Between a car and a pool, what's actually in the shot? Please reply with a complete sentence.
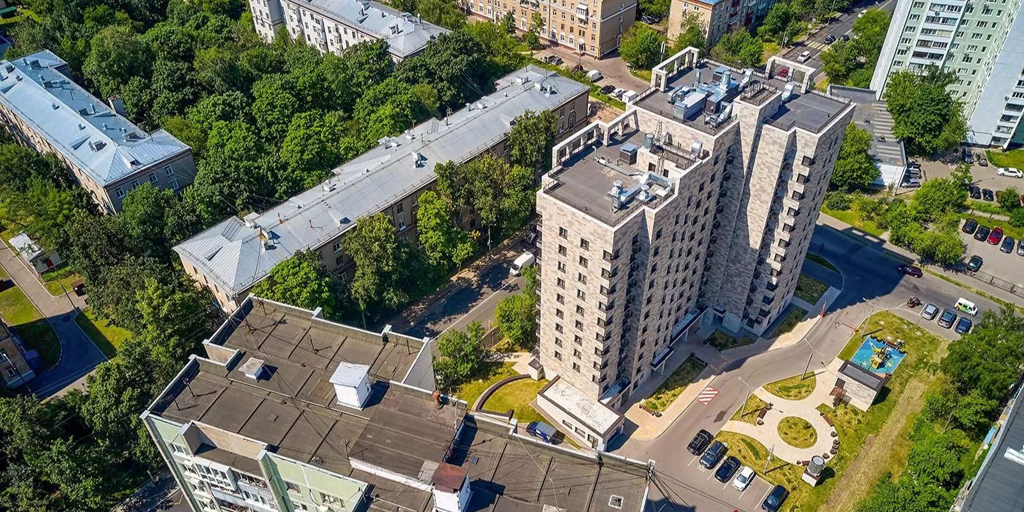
There is a car in the scene.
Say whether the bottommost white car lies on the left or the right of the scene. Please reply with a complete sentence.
You can find the bottommost white car on the right side of the picture.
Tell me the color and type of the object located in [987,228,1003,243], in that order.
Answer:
red car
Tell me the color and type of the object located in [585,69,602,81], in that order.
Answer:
white vehicle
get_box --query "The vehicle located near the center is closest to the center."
[510,247,533,274]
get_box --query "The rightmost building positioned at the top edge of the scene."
[870,0,1024,148]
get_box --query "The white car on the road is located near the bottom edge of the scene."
[733,465,757,490]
